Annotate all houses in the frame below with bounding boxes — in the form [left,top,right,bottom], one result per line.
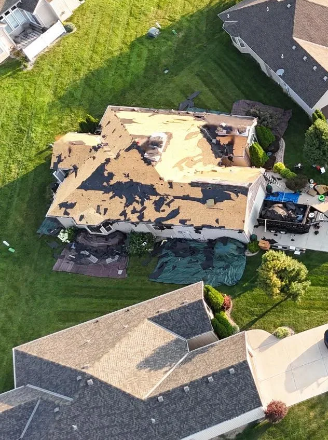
[223,0,328,119]
[0,0,84,66]
[0,280,265,440]
[47,107,269,243]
